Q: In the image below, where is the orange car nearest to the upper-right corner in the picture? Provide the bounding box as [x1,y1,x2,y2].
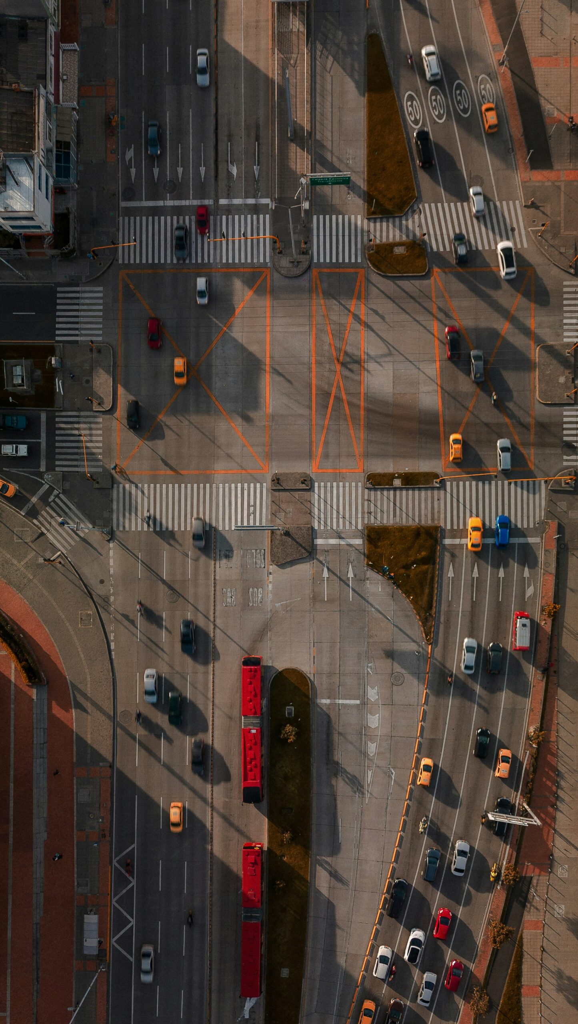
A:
[479,103,498,136]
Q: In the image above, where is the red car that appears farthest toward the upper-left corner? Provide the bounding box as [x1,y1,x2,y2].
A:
[194,205,210,236]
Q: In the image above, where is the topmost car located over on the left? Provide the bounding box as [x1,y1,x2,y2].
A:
[194,49,211,89]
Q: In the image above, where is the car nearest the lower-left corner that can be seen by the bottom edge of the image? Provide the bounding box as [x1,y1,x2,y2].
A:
[139,941,155,981]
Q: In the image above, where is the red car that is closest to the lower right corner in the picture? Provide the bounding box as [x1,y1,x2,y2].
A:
[442,956,465,992]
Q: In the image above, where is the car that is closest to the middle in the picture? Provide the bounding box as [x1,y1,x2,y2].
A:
[192,517,207,549]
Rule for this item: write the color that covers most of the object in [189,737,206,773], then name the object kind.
black car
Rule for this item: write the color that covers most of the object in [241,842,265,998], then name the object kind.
red bus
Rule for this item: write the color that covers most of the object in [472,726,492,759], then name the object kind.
black car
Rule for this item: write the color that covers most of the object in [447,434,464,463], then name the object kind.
orange car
